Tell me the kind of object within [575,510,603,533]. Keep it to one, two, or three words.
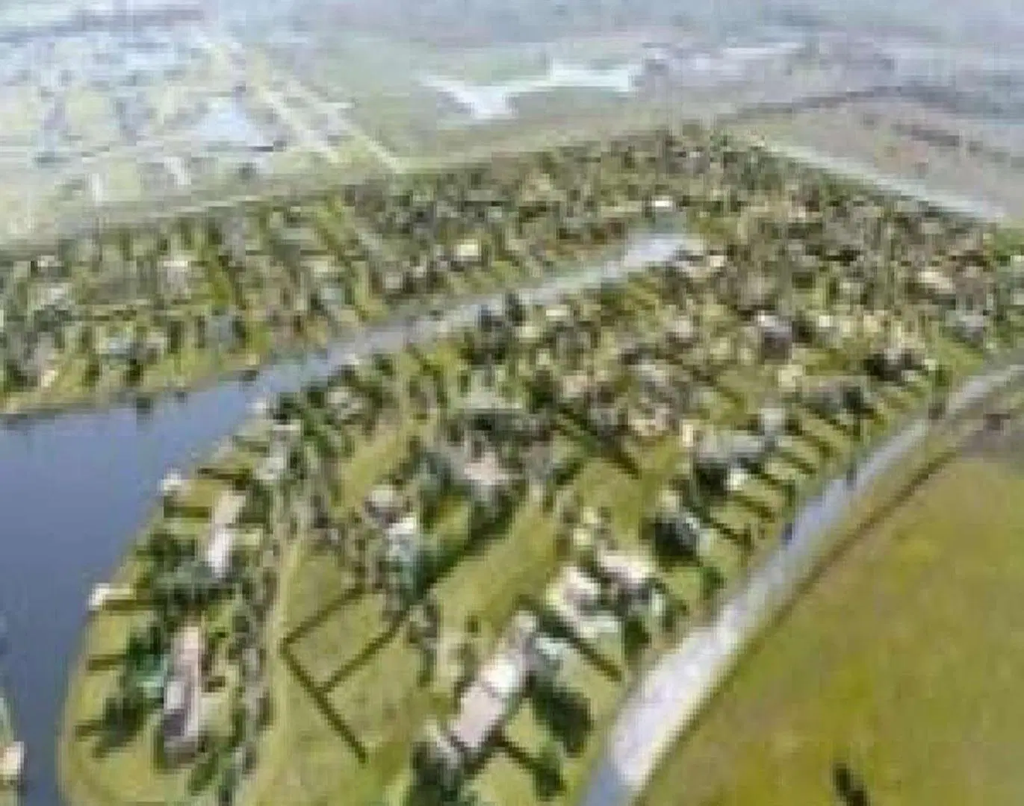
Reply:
shed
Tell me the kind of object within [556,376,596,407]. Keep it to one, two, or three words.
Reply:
house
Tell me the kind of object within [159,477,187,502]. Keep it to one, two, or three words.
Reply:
building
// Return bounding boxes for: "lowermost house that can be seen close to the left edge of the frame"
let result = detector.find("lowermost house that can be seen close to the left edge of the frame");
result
[0,739,32,789]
